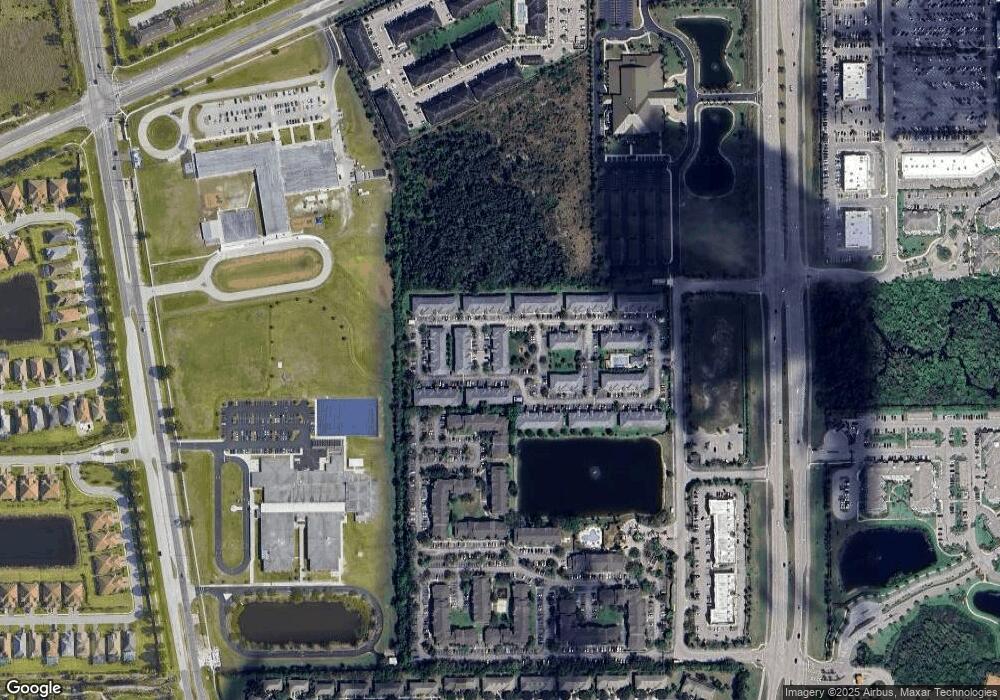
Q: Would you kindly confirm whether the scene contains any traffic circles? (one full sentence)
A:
Yes, the frame does contain a traffic circle.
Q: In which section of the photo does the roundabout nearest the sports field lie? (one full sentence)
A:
Look in the top left portion of the view to spot the roundabout nearest the sports field.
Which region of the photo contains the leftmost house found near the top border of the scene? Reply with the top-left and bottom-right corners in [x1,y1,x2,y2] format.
[137,12,190,47]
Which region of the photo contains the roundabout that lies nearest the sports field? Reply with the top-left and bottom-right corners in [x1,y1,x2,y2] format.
[138,105,187,154]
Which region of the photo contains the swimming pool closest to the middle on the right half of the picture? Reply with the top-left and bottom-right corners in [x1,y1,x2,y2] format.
[611,354,629,367]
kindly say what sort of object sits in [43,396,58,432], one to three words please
house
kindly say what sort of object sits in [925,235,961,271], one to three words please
roundabout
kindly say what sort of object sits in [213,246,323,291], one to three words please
sports field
